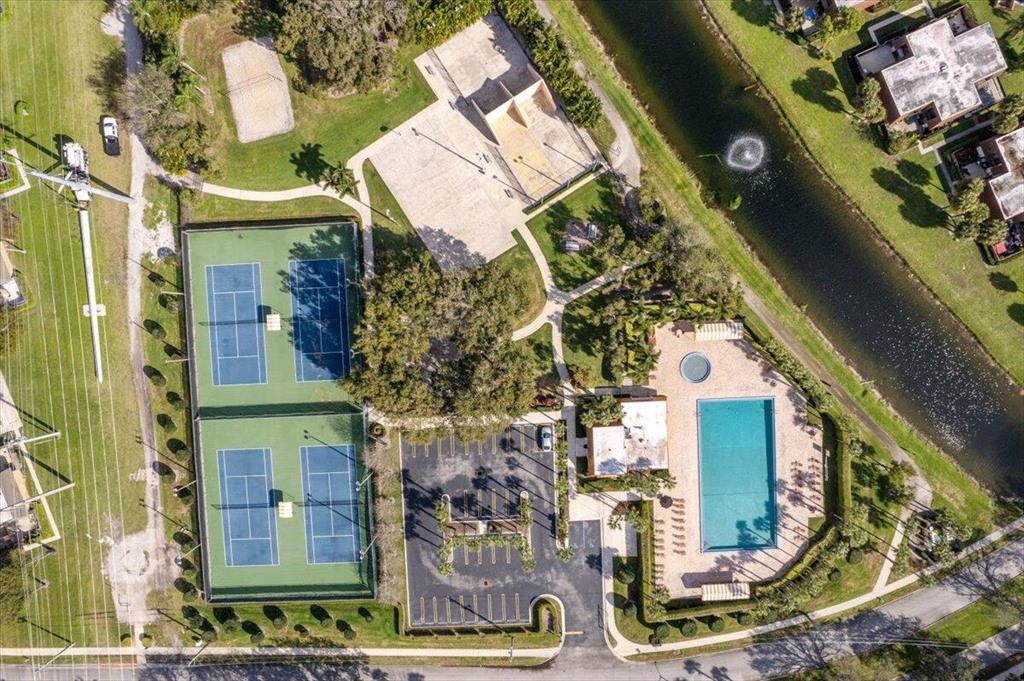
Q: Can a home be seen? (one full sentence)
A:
Yes, the image includes a home.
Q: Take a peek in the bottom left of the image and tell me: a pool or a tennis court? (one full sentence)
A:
What appears in the bottom left of the image is a tennis court.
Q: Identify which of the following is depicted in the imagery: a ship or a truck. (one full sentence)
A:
The image shows a truck.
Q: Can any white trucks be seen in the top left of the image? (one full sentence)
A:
Yes, there is a white truck in the top left of the image.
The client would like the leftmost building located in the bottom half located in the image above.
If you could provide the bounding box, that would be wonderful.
[0,442,40,509]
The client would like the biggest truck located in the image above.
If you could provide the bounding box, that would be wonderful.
[55,141,89,204]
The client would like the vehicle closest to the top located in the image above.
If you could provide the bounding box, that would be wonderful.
[99,119,118,153]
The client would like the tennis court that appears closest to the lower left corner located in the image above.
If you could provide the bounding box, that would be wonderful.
[214,447,279,567]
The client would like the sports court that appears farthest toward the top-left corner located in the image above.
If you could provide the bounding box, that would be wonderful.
[223,41,293,141]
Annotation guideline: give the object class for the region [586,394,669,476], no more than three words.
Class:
building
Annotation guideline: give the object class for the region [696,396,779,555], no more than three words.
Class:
swimming pool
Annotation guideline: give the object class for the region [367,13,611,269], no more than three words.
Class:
sports court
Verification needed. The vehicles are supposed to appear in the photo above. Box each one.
[99,119,118,153]
[541,427,551,450]
[55,141,89,204]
